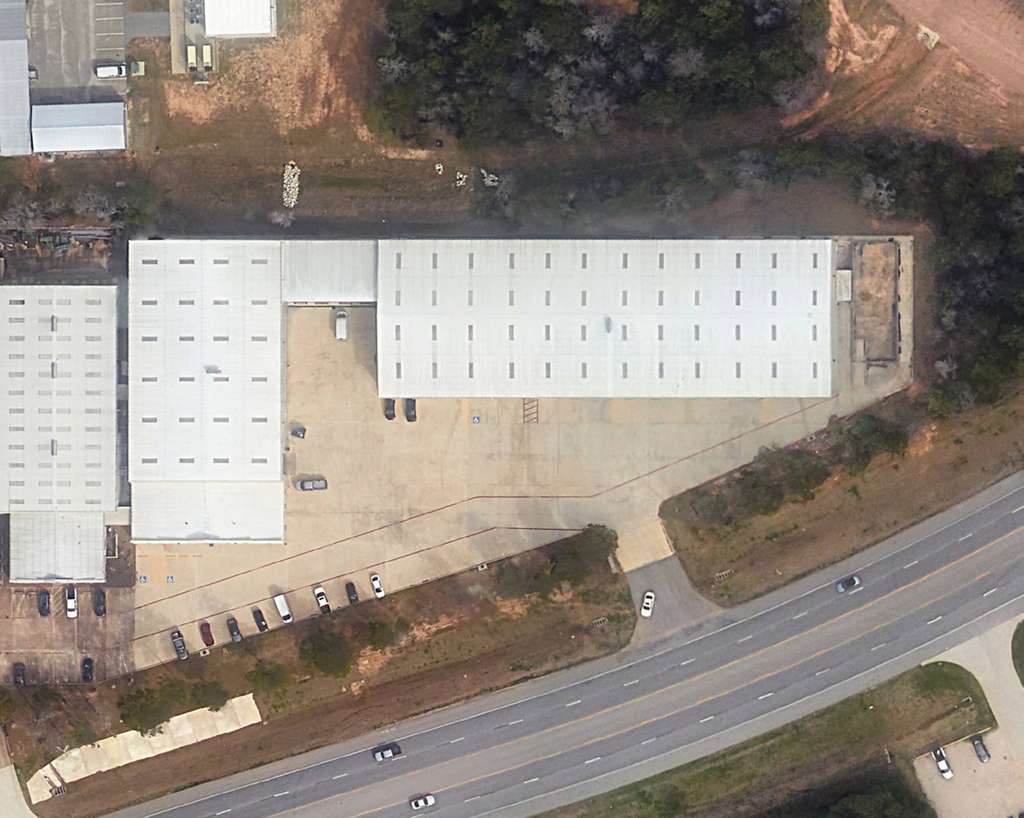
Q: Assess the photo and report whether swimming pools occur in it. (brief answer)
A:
No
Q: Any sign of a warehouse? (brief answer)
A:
Yes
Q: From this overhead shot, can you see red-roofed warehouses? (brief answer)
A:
No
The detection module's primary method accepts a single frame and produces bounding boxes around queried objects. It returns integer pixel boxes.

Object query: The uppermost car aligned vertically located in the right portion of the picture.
[642,591,654,617]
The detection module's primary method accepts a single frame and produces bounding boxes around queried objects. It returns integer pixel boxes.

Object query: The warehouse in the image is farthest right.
[377,239,832,398]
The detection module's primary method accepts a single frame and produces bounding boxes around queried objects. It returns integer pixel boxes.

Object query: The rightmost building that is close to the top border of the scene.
[206,0,278,44]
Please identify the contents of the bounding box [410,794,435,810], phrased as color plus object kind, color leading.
white car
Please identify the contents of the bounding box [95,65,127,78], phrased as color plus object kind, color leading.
white vehicle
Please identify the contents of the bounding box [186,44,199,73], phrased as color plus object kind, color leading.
white vehicle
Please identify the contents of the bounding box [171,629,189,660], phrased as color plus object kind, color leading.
gray vehicle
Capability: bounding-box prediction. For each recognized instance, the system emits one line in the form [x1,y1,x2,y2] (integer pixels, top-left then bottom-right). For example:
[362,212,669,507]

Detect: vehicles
[186,44,199,73]
[38,591,51,616]
[274,593,292,624]
[95,591,106,616]
[65,586,79,618]
[252,606,268,632]
[201,622,214,646]
[201,43,214,72]
[335,312,348,340]
[13,662,25,684]
[836,575,861,593]
[82,657,94,681]
[973,739,989,763]
[346,581,359,604]
[227,618,242,642]
[370,573,385,598]
[295,479,328,491]
[410,794,435,810]
[384,398,396,420]
[95,65,127,78]
[372,743,402,761]
[171,629,189,660]
[405,398,416,422]
[642,591,654,617]
[315,585,332,614]
[932,746,952,779]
